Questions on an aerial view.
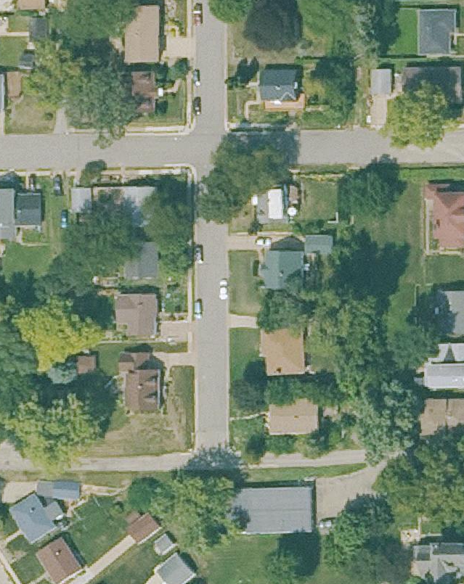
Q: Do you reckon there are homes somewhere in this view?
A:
Yes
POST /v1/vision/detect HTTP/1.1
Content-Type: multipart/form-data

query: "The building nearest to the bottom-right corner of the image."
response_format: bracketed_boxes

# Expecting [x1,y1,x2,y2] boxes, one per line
[413,543,464,578]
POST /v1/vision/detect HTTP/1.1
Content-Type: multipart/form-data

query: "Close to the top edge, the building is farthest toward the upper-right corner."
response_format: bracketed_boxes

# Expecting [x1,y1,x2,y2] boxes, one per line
[419,9,456,54]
